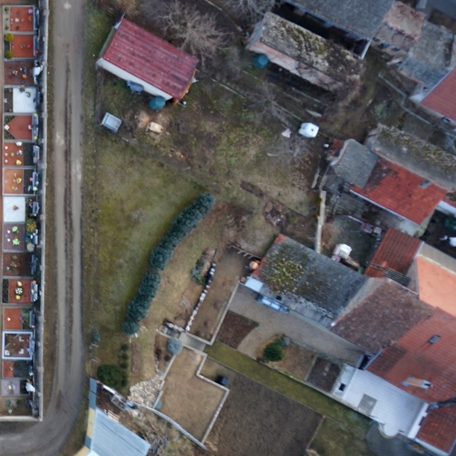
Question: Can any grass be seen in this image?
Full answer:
Yes, grass can be seen from above here.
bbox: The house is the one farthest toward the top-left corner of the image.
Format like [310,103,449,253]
[97,19,198,103]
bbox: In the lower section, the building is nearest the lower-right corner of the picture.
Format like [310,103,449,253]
[399,400,456,456]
